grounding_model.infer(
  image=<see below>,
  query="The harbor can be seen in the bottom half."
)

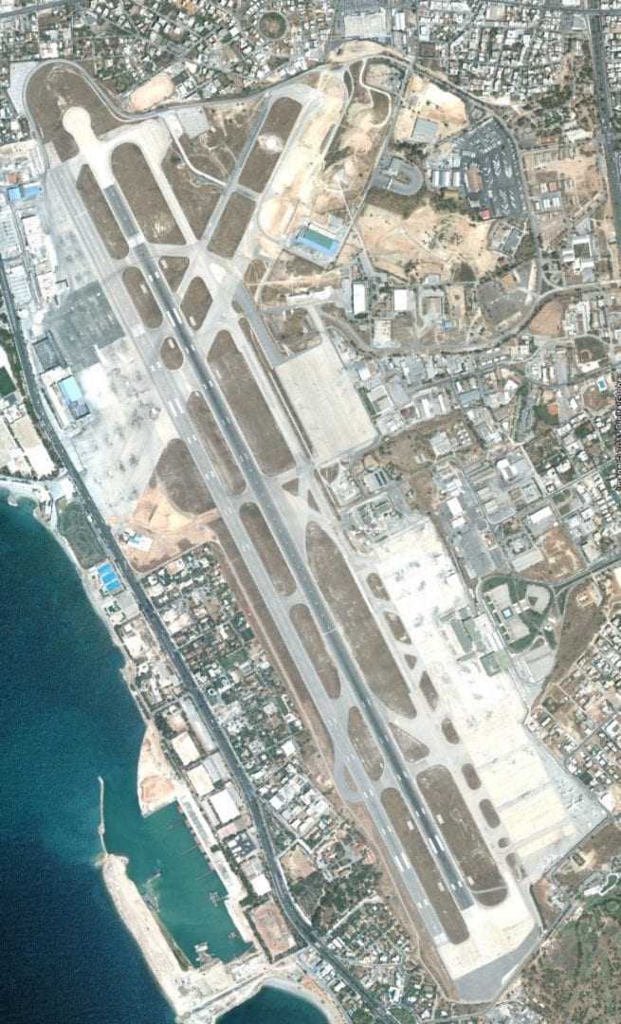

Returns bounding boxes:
[99,775,252,1004]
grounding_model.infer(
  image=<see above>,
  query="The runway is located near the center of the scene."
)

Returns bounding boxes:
[99,176,474,911]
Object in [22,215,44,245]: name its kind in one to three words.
hangar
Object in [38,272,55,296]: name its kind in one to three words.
hangar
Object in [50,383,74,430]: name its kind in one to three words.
building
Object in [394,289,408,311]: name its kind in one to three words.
building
